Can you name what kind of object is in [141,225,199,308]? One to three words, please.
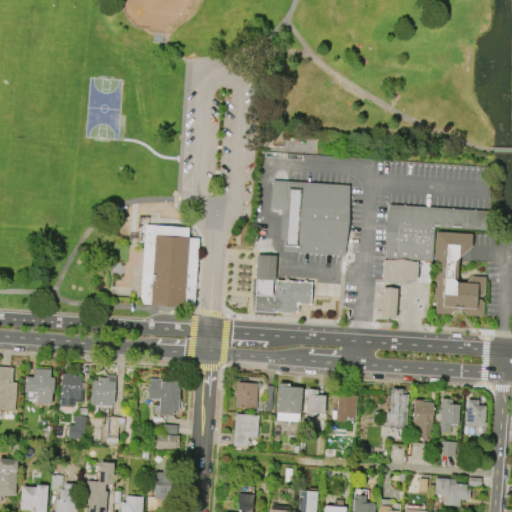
building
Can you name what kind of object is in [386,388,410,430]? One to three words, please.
house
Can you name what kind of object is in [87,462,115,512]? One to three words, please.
house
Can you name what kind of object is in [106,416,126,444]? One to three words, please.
building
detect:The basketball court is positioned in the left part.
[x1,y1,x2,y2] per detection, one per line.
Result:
[86,76,126,142]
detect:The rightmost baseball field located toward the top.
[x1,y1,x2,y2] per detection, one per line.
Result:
[124,0,201,43]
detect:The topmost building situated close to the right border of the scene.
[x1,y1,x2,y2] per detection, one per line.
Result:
[386,205,490,260]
